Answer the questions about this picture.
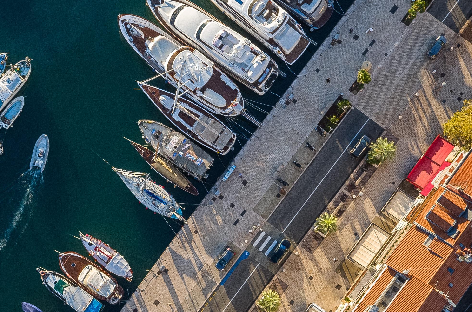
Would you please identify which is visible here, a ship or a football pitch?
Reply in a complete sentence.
Looking from above, you can make out a ship.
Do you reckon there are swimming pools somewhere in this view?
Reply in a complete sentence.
No, I can see no swimming pool in this picture.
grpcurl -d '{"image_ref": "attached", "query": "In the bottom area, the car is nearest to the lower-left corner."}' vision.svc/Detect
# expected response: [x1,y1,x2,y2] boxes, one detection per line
[214,245,236,271]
